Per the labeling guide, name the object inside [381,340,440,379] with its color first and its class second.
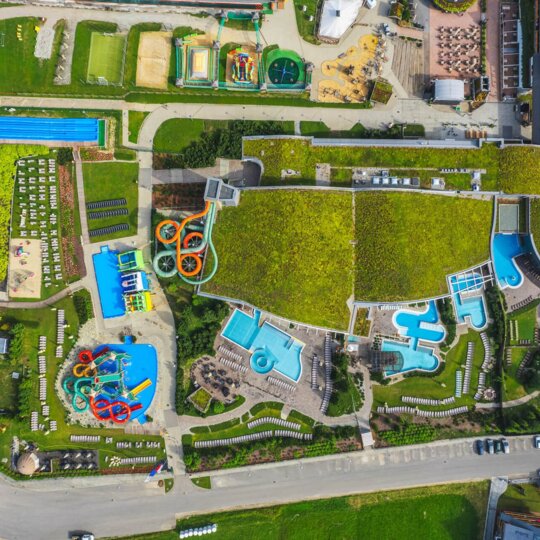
blue swimming pool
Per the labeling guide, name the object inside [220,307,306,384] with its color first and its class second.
blue swimming pool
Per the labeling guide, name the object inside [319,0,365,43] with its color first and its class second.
white tent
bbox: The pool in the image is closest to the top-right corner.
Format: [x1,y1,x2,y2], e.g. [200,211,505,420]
[493,233,525,288]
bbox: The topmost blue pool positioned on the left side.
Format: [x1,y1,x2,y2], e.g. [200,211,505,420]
[92,245,132,319]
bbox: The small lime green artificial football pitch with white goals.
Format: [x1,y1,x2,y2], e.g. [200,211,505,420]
[85,28,127,86]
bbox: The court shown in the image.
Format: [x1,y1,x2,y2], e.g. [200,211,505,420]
[136,32,172,89]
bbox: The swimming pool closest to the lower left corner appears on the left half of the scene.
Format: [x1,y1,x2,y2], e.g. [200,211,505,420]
[85,335,159,426]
